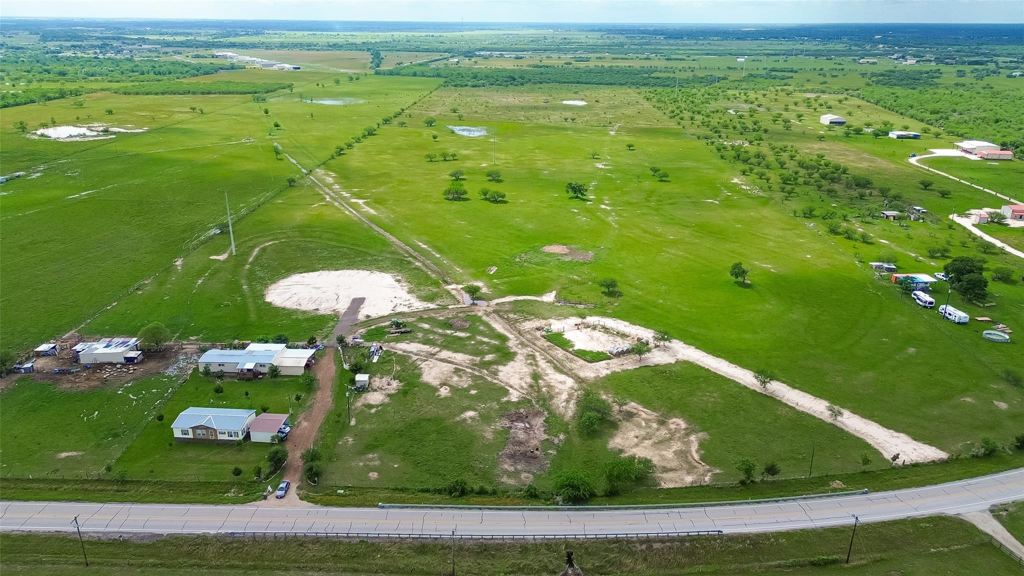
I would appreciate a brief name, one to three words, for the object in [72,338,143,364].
barn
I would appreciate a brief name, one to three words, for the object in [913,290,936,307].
camper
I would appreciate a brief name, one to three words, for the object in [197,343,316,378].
house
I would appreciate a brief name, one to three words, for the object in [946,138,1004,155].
hangar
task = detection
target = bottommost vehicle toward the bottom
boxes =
[275,481,290,497]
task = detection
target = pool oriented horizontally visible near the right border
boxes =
[981,328,1013,342]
